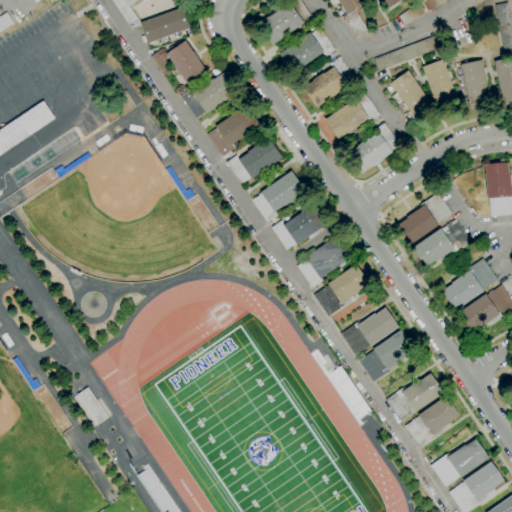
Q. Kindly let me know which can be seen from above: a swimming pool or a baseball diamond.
baseball diamond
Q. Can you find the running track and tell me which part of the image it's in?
bottom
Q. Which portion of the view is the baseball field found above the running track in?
left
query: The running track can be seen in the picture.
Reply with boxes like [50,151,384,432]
[90,280,406,512]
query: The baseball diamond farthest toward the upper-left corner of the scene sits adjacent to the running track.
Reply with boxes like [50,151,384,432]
[20,133,220,282]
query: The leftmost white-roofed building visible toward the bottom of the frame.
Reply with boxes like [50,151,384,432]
[74,387,112,427]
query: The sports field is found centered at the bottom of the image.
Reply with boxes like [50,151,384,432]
[140,314,388,512]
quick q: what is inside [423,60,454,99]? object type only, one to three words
building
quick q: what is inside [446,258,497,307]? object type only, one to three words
house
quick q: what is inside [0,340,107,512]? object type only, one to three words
baseball field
